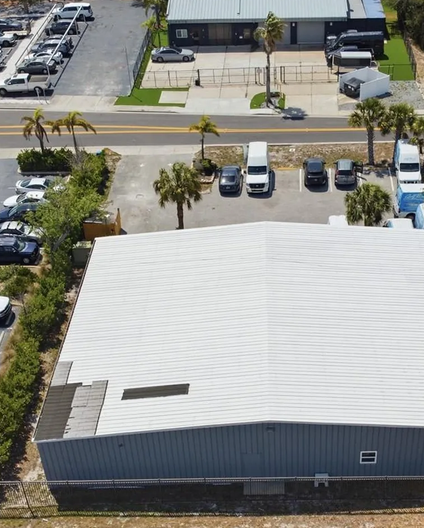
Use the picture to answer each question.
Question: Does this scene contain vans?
Yes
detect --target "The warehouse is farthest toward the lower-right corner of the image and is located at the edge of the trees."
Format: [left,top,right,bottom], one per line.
[27,222,424,487]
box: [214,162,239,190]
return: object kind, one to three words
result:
car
